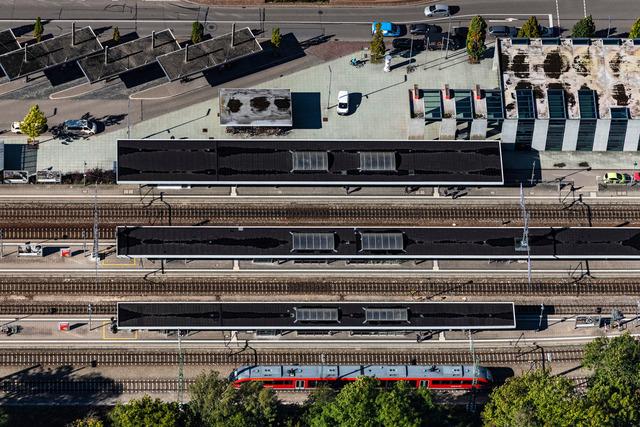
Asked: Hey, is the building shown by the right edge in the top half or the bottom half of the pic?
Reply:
top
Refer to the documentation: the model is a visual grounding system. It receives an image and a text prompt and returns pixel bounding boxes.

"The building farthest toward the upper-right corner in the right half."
[408,36,640,150]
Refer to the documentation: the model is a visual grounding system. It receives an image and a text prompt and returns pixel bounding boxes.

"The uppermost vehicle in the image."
[424,3,450,16]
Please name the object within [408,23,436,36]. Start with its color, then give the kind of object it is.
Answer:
black vehicle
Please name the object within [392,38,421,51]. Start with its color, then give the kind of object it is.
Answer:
black vehicle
